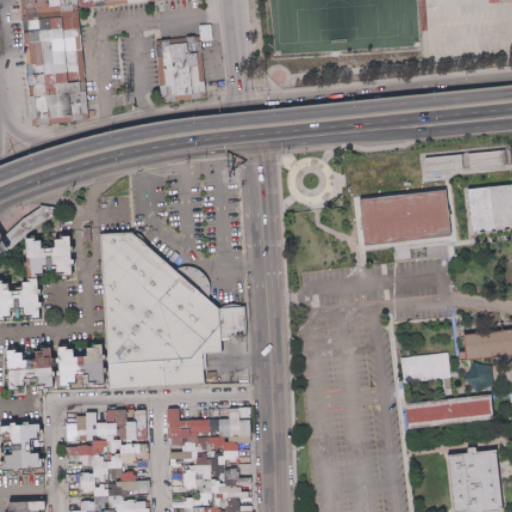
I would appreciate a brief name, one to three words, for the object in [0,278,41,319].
building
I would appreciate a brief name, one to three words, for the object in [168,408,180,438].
house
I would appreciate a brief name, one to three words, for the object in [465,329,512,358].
building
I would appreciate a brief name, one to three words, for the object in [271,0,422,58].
soccer field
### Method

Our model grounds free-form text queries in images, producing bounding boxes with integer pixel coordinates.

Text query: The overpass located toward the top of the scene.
[0,86,512,203]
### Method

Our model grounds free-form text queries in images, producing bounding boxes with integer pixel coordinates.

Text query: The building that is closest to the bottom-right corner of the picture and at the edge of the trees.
[448,447,504,512]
